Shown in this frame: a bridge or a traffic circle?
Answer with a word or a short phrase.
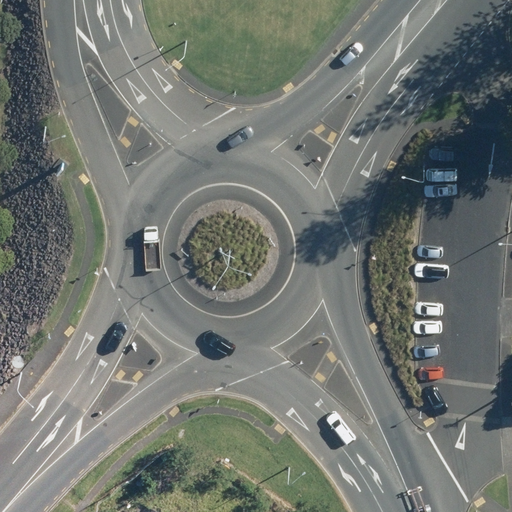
traffic circle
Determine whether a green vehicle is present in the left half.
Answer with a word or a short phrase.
No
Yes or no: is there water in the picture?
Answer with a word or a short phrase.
No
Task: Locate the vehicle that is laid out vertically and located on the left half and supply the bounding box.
[142,226,160,272]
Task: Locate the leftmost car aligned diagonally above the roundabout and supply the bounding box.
[222,127,256,152]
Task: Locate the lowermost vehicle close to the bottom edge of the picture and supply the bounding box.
[408,486,434,512]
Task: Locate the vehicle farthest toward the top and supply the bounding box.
[338,40,364,68]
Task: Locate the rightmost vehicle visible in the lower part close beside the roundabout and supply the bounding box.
[204,331,237,356]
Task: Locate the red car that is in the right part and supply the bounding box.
[418,367,446,382]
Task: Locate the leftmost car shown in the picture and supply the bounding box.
[102,322,130,356]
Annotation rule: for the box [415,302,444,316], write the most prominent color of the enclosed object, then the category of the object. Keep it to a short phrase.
white car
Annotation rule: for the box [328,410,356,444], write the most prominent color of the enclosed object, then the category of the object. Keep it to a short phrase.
white van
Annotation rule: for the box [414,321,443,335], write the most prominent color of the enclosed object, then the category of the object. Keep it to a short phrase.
white car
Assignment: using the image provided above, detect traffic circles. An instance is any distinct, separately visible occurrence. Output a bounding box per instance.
[161,182,298,319]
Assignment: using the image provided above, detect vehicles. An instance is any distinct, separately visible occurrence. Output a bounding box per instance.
[204,331,237,356]
[408,486,434,512]
[414,345,440,360]
[426,168,458,182]
[417,246,444,259]
[414,321,443,335]
[415,302,444,316]
[414,264,450,278]
[428,148,455,162]
[328,410,356,444]
[102,322,130,356]
[338,40,364,68]
[425,183,458,198]
[222,127,256,152]
[418,367,446,382]
[424,386,448,415]
[142,226,160,272]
